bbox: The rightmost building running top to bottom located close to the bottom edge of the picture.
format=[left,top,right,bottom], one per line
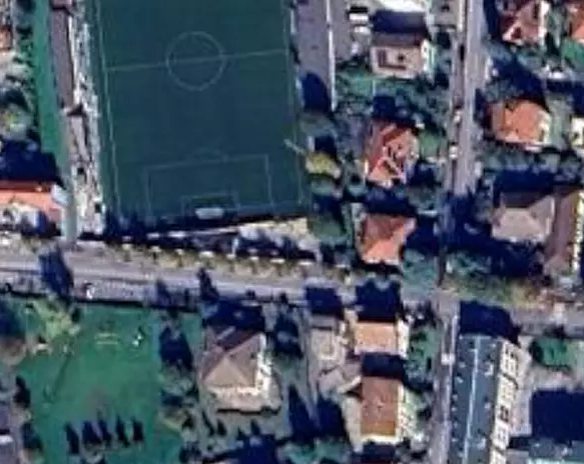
[450,335,516,464]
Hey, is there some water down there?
No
